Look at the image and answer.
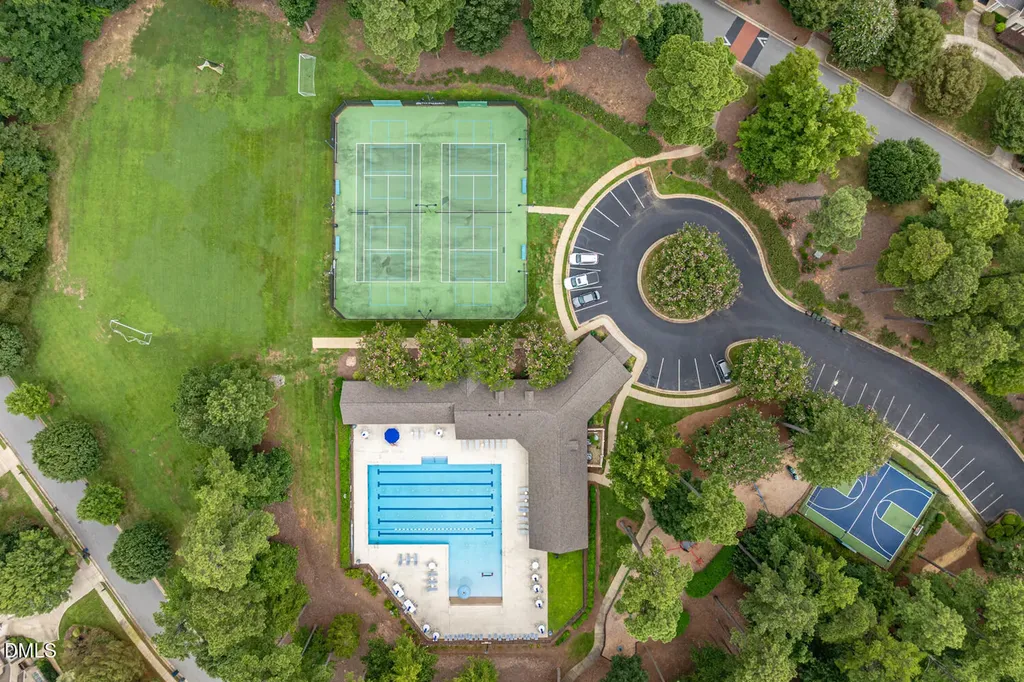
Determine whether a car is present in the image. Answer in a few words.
Yes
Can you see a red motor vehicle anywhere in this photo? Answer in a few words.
No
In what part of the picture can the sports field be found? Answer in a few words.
left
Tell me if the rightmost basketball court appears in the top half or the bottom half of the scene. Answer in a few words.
bottom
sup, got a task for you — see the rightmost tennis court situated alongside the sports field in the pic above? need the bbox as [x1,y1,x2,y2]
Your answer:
[431,106,527,319]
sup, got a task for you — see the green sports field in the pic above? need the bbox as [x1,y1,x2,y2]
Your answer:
[22,0,337,579]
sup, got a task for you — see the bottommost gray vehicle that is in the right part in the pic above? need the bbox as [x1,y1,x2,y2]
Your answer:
[716,357,732,383]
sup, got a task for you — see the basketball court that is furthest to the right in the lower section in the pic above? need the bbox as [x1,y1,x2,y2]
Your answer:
[795,443,939,567]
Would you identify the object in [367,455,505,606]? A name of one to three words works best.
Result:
swimming pool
